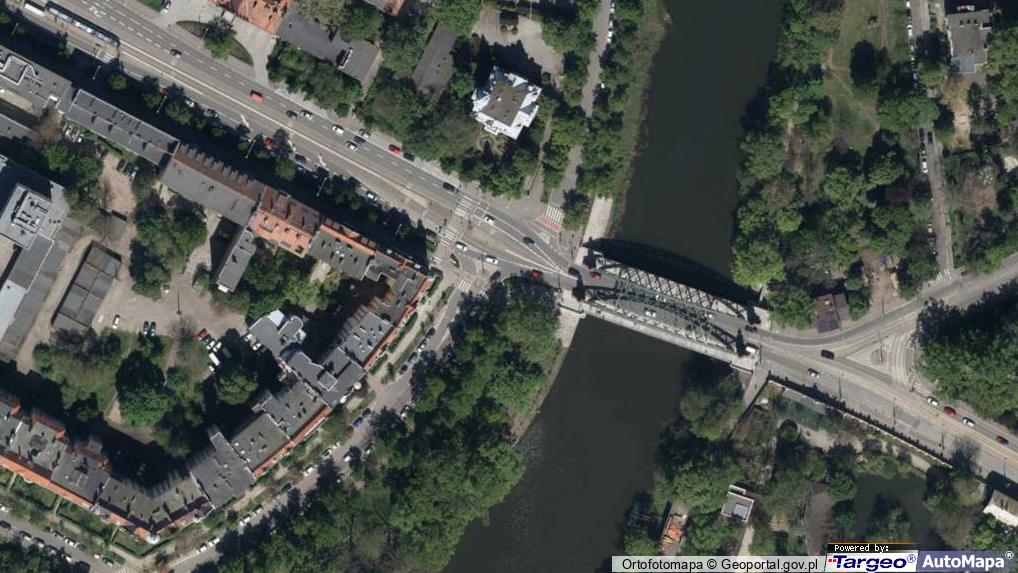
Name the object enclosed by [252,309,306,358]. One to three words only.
building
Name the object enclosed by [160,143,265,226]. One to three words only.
house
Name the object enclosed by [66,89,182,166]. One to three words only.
house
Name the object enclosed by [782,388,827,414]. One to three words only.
building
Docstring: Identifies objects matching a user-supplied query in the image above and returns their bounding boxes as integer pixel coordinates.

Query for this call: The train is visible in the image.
[44,1,117,44]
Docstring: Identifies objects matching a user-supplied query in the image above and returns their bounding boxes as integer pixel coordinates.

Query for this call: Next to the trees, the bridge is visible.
[570,258,761,365]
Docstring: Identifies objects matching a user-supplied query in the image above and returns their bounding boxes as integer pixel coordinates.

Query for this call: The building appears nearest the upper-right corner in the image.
[944,5,991,74]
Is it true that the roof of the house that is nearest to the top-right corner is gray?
Yes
